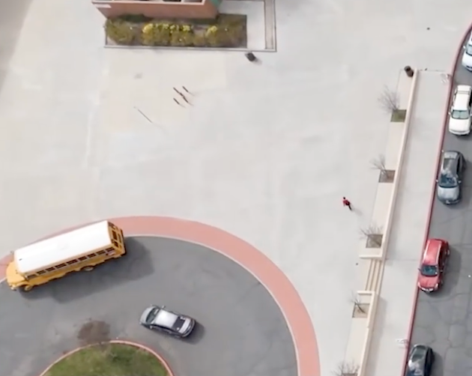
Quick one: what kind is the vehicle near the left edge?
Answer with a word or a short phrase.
bus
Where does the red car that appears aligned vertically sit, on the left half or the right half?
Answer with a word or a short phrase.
right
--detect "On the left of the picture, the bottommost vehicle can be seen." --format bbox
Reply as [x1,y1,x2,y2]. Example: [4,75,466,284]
[143,307,196,337]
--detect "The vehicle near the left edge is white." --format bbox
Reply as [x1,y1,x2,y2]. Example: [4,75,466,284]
[11,223,125,289]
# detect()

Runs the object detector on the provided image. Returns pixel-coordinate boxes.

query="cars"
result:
[447,82,472,136]
[437,152,463,203]
[418,238,449,293]
[408,346,435,376]
[143,307,196,337]
[464,33,472,69]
